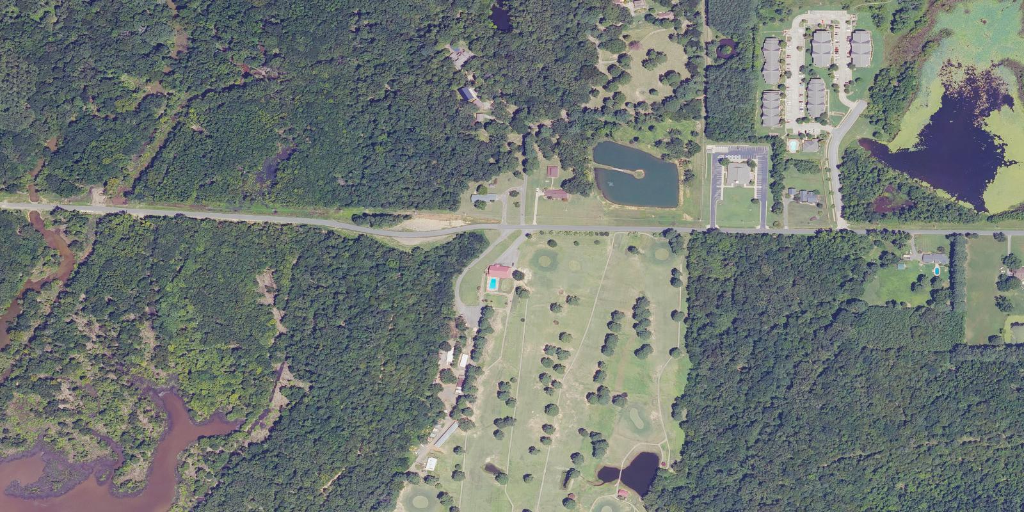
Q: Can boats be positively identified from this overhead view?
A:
No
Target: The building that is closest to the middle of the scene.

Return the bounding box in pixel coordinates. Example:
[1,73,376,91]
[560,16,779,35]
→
[488,263,512,278]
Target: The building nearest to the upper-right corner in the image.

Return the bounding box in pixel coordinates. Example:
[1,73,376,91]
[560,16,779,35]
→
[852,29,872,68]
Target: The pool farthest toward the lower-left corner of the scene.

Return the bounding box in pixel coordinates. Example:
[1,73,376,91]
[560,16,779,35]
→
[487,277,499,292]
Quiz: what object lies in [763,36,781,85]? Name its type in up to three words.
building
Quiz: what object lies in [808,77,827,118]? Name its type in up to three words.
building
